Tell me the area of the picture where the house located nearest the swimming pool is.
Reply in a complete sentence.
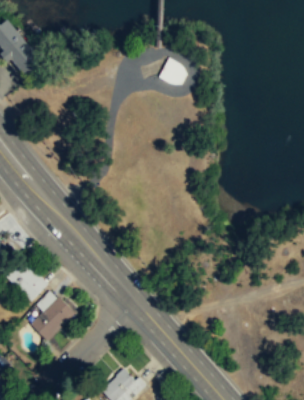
Look in the bottom left portion of the view to spot the house located nearest the swimming pool.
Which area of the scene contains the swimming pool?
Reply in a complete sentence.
The swimming pool is located in the bottom left region of the scene.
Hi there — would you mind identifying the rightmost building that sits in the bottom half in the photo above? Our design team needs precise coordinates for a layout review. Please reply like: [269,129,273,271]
[105,370,147,400]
